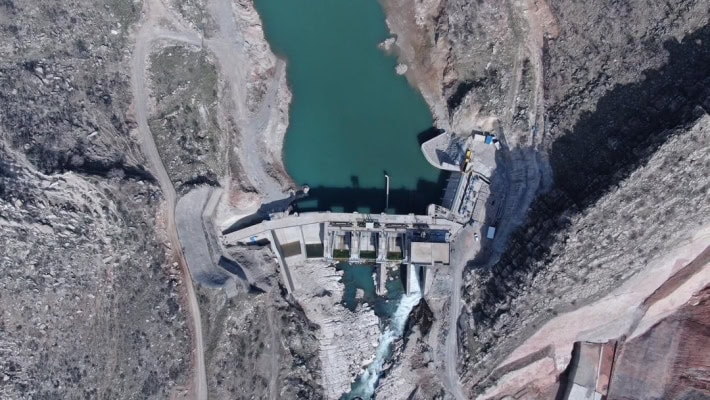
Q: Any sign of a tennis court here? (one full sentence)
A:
No, there appears to be no tennis court in this shot.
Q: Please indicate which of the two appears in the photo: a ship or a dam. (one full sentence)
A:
I can see a dam in this picture.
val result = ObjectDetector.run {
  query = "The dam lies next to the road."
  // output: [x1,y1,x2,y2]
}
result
[223,210,463,295]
